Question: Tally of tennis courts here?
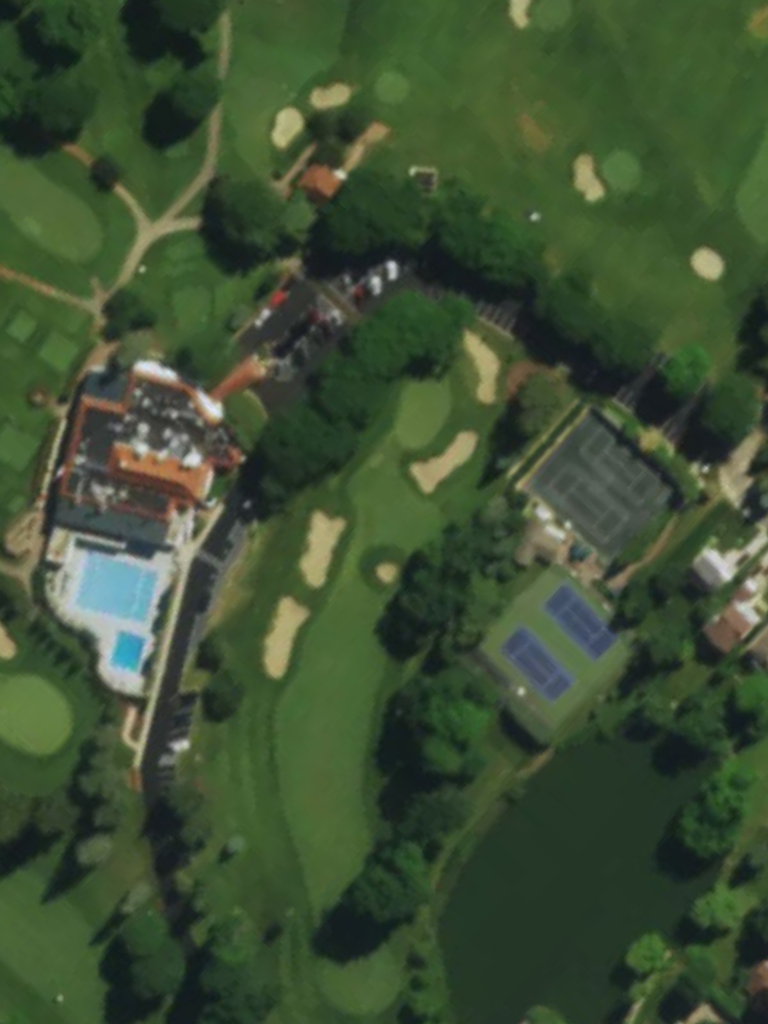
4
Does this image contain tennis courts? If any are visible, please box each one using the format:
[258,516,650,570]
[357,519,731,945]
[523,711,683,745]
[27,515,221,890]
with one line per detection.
[559,410,680,526]
[525,448,642,560]
[519,563,637,680]
[484,605,601,742]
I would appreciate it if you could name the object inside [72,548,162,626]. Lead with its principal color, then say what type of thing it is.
blue swimming pool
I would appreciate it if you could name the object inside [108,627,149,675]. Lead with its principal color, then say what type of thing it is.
blue swimming pool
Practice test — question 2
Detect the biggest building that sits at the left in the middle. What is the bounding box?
[53,351,265,546]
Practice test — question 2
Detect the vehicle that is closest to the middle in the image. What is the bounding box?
[242,497,254,513]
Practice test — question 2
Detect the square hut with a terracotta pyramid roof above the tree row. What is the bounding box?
[301,166,347,203]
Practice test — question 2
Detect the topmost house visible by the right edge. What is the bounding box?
[694,546,734,592]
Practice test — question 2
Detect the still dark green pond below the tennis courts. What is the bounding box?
[440,738,713,1024]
